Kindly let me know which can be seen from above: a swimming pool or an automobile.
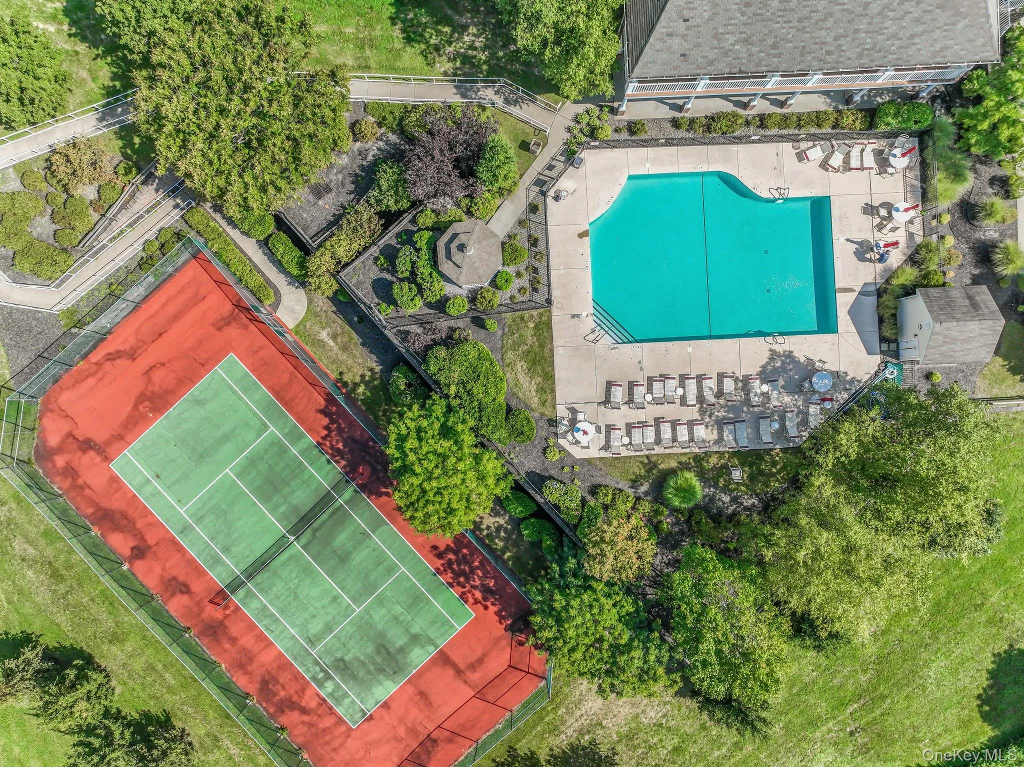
swimming pool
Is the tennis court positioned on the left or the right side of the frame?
left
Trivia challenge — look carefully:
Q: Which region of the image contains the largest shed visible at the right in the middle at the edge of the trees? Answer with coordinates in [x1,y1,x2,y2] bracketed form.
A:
[898,284,1003,365]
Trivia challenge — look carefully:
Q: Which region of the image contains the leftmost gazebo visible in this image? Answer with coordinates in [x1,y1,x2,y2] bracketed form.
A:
[437,221,502,289]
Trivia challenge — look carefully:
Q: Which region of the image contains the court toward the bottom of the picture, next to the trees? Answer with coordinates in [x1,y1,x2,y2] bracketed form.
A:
[31,252,548,767]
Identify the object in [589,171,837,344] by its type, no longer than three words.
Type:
swimming pool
